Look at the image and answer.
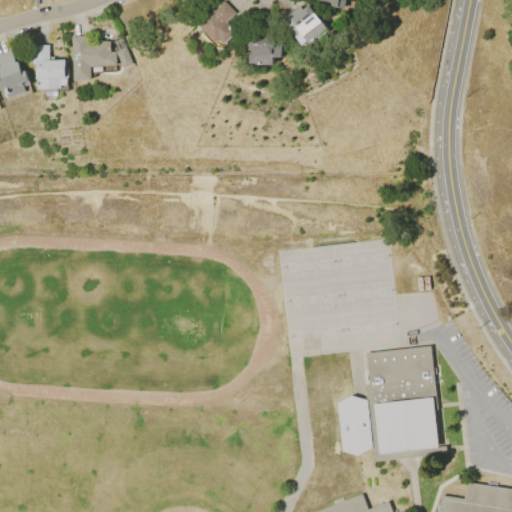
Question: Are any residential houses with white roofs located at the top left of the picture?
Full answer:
Yes, the scene does show a residential house with a white roof at the top left of the picture.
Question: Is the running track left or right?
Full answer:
The running track is on the left side of the image.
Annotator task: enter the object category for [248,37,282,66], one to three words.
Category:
house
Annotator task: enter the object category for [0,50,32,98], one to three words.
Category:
house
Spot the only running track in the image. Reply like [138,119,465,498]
[0,236,275,405]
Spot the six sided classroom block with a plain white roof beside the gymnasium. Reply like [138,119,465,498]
[338,396,372,456]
